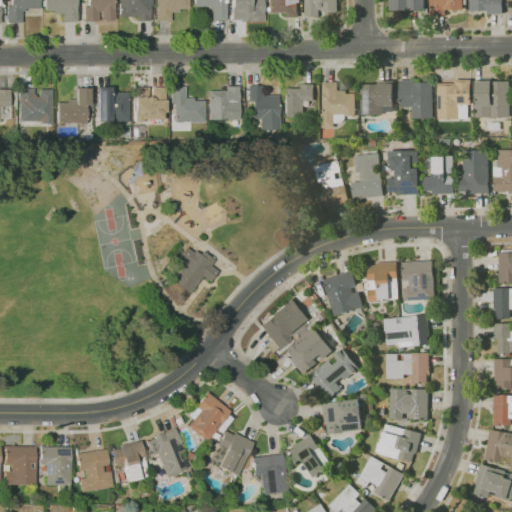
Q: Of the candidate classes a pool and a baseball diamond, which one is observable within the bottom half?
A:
pool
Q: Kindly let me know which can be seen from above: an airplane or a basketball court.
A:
basketball court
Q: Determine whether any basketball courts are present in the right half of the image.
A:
No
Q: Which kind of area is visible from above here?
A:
residential area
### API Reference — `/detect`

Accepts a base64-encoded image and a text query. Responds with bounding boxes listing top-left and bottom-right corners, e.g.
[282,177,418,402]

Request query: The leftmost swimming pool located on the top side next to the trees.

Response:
[306,140,332,159]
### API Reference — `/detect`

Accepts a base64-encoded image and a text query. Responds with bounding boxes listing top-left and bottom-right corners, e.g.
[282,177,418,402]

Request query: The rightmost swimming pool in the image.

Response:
[400,300,428,316]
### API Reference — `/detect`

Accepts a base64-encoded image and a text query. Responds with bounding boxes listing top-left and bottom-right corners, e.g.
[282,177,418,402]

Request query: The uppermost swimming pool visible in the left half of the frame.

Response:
[178,424,200,454]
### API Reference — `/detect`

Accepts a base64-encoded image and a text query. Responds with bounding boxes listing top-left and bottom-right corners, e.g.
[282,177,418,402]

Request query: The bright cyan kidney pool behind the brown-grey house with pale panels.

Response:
[361,116,396,136]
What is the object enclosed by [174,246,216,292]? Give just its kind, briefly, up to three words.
building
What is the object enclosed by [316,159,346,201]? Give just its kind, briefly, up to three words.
house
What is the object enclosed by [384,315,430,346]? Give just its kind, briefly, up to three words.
house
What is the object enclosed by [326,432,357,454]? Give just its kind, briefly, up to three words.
swimming pool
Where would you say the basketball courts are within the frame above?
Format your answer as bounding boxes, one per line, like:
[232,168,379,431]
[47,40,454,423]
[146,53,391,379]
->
[95,194,151,287]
